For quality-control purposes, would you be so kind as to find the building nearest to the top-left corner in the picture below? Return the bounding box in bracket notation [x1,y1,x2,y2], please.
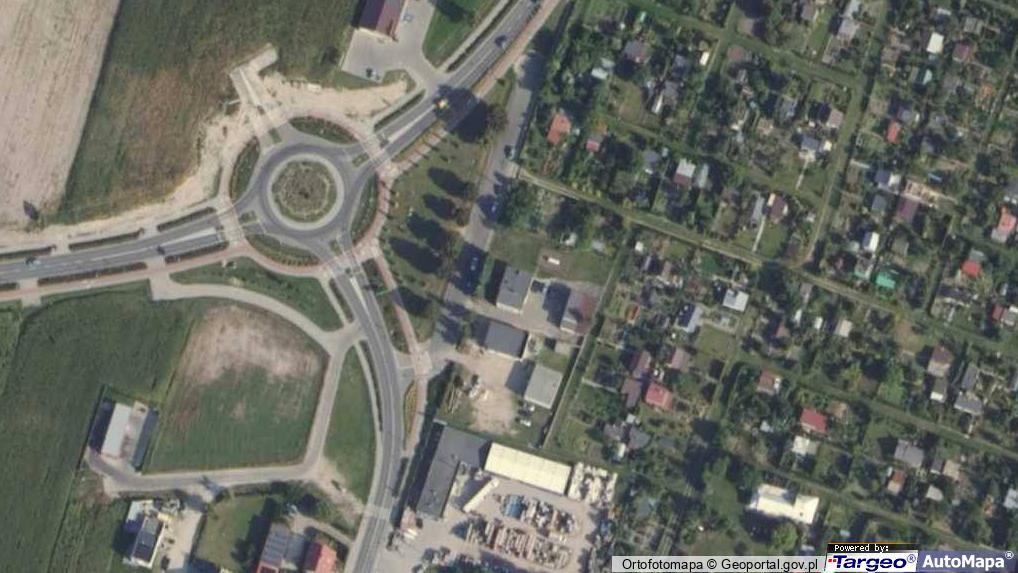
[356,0,410,40]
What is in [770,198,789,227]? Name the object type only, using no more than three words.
shed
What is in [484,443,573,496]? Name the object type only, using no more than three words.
building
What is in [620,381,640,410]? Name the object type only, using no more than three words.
shed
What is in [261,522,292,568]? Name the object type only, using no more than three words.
house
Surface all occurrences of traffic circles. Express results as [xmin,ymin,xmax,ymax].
[250,136,363,246]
